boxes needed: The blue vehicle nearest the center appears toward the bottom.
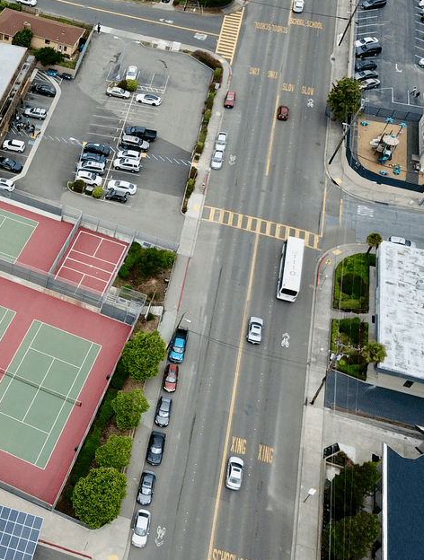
[168,329,188,362]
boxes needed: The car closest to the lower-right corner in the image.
[225,457,244,491]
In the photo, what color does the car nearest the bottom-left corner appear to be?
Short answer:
white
